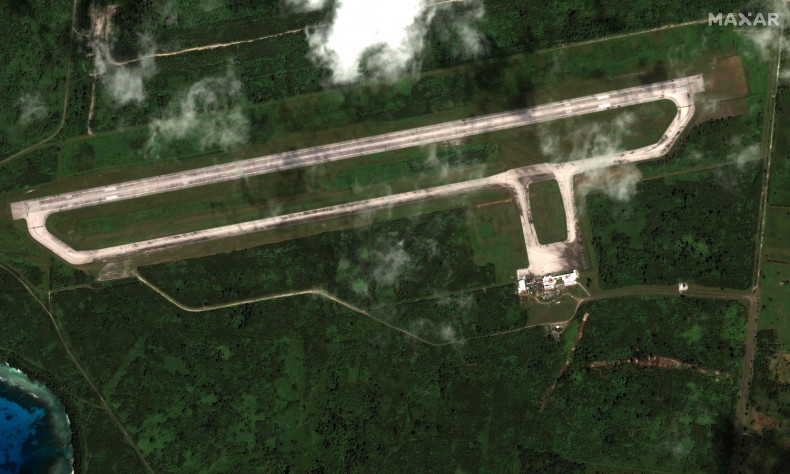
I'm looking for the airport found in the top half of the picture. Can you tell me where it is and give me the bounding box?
[0,16,761,326]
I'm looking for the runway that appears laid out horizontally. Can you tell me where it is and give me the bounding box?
[25,77,690,217]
